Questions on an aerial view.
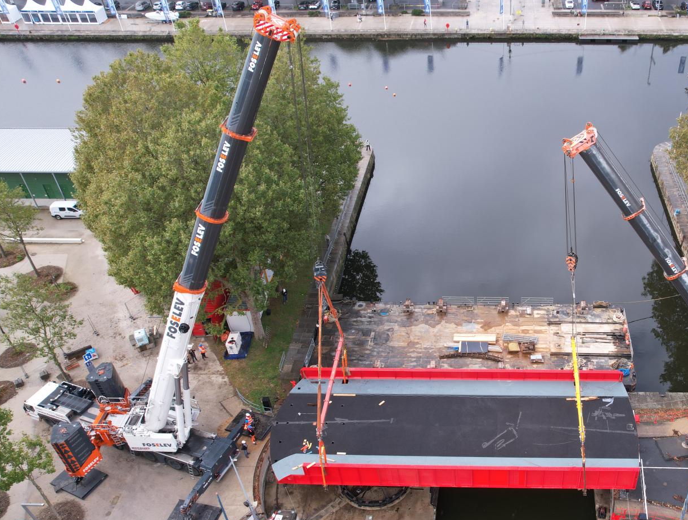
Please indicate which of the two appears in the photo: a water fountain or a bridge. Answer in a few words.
bridge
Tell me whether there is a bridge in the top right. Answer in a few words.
No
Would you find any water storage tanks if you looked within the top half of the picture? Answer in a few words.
No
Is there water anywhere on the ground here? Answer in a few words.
Yes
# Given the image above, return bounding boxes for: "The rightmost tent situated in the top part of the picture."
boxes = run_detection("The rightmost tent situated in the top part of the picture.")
[20,0,109,24]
